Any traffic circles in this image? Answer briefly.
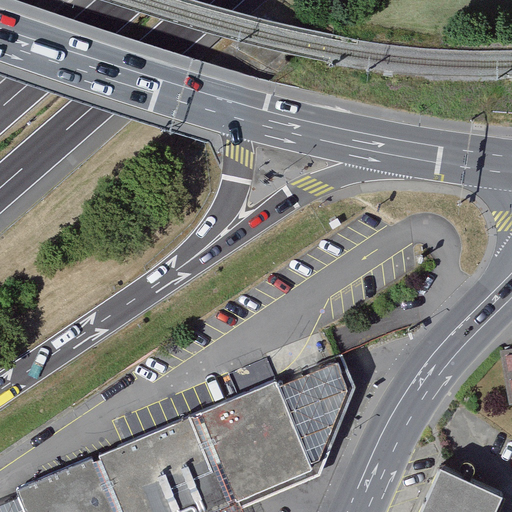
No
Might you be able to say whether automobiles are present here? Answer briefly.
Yes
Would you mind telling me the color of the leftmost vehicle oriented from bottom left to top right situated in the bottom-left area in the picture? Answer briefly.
yellow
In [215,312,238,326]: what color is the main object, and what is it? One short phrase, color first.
red car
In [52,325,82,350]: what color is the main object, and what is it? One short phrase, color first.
white vehicle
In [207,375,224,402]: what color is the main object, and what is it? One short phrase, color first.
white vehicle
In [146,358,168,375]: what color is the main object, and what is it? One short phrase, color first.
white car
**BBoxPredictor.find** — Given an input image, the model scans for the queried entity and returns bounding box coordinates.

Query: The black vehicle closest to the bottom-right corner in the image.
[492,432,506,454]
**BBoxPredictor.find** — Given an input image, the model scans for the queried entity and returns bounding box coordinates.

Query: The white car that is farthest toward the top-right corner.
[276,101,298,114]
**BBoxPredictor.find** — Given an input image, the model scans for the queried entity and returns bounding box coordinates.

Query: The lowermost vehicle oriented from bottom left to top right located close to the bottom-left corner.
[30,427,56,446]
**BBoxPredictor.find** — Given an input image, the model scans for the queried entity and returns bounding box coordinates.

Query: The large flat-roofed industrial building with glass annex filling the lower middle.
[0,352,354,512]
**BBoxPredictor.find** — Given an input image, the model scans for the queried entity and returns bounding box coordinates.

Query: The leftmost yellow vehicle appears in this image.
[0,385,22,407]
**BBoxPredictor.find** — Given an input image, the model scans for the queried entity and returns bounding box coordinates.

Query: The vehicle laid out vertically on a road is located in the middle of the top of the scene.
[229,120,242,146]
